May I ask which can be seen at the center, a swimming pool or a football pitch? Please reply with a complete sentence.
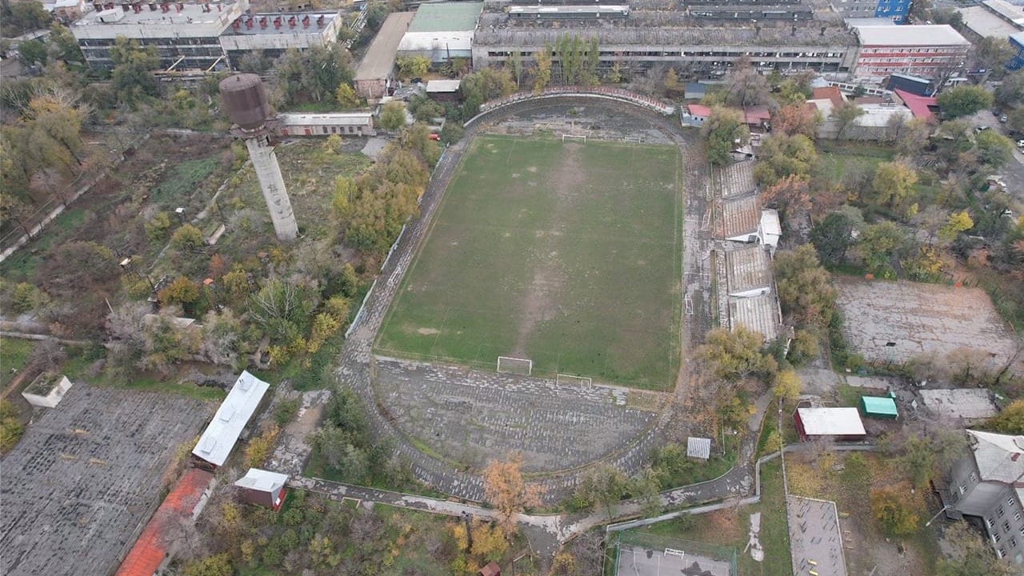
Looking at the center, you will find a football pitch.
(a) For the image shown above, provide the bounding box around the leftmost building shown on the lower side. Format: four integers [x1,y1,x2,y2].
[21,371,71,406]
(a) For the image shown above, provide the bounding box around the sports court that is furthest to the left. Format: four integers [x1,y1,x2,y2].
[617,547,731,576]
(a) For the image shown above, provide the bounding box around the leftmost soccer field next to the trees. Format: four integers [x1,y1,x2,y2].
[375,135,682,393]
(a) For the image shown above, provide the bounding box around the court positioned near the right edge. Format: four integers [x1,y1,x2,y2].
[835,277,1021,376]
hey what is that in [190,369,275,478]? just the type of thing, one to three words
building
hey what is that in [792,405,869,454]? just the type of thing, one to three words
building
